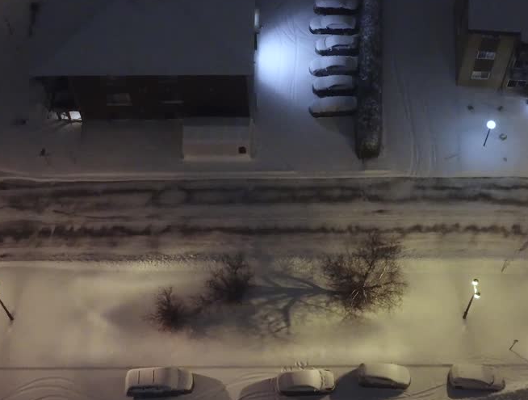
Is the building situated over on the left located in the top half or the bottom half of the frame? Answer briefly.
top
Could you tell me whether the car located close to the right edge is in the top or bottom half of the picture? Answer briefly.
bottom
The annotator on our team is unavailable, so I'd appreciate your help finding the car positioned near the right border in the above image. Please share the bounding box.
[445,365,507,394]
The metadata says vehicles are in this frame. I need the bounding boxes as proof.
[445,365,507,394]
[311,76,359,99]
[308,96,359,121]
[314,35,359,58]
[313,0,358,19]
[309,16,359,39]
[356,363,413,392]
[125,366,193,399]
[277,368,336,397]
[309,56,359,79]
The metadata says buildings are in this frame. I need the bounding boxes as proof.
[30,0,259,159]
[456,0,528,89]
